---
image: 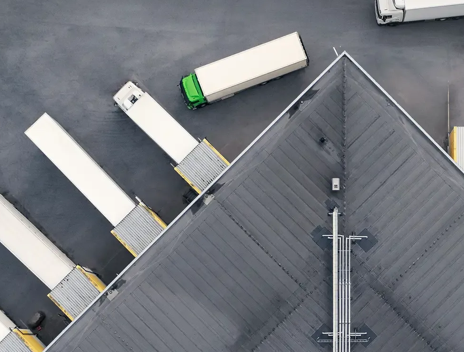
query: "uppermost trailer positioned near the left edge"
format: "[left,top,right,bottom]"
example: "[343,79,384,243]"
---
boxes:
[21,109,137,226]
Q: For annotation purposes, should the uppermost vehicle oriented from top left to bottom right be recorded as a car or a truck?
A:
truck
